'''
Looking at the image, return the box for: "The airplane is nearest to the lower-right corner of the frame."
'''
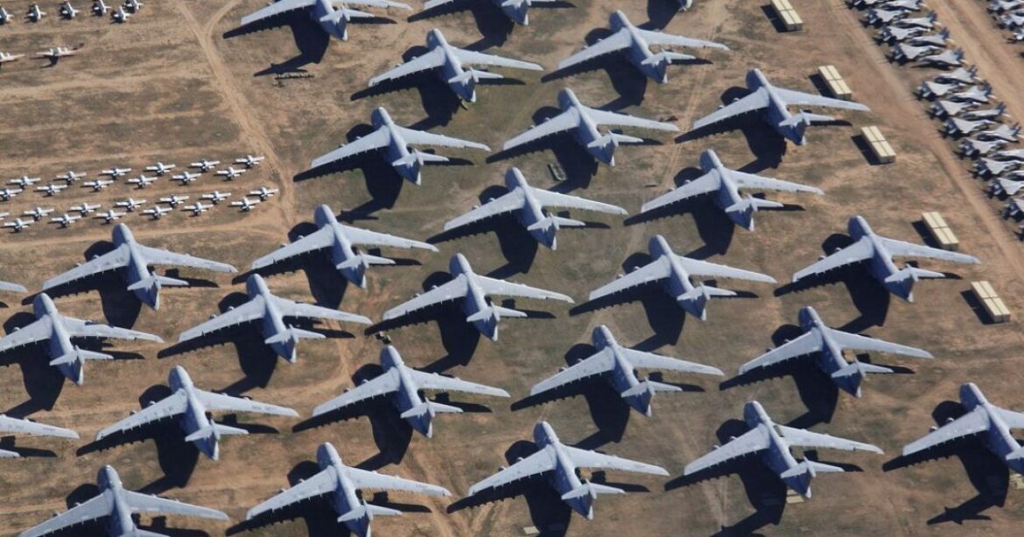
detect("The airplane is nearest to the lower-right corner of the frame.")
[904,385,1024,476]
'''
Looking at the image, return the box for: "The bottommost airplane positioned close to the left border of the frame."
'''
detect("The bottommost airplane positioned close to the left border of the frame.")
[19,464,228,537]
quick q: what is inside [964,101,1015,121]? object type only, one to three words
airplane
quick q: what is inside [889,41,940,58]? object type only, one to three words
airplane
